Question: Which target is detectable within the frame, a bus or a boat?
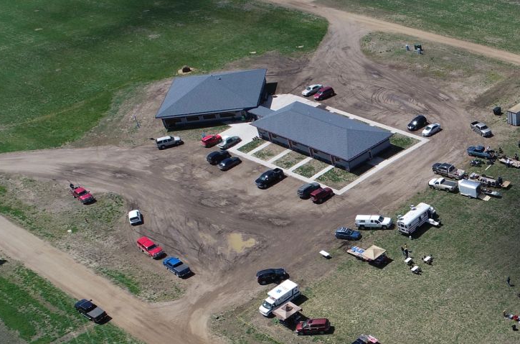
bus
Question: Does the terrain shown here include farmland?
Yes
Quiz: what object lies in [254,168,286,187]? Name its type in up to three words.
vehicle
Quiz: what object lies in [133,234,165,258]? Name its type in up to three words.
truck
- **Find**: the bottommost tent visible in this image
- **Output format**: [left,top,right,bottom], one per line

[271,301,304,328]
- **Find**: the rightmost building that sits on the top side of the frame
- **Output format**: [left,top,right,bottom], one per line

[250,102,397,171]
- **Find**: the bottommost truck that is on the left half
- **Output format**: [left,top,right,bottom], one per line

[74,303,109,325]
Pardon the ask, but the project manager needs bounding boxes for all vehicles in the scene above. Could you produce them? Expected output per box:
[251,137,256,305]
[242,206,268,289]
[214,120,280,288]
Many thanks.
[397,202,436,234]
[127,211,142,226]
[154,136,183,148]
[301,85,324,97]
[67,186,93,203]
[435,166,468,182]
[74,303,109,325]
[420,124,443,137]
[406,115,429,130]
[206,149,232,164]
[354,216,392,232]
[294,315,333,335]
[467,147,494,159]
[259,276,301,314]
[308,189,336,203]
[333,229,362,241]
[162,260,193,278]
[133,234,165,258]
[427,178,456,194]
[199,132,224,146]
[313,87,335,100]
[295,184,323,198]
[253,269,290,286]
[217,158,243,170]
[467,121,493,137]
[254,168,286,187]
[217,137,242,148]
